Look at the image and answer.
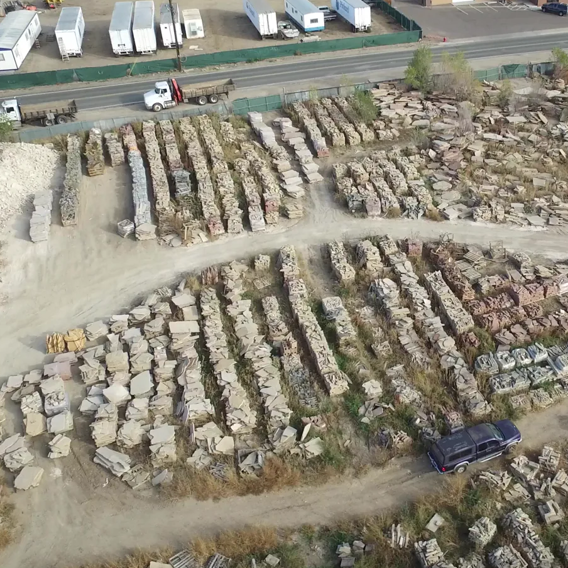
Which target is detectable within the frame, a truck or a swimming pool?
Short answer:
truck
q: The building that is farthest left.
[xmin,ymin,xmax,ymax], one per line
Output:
[0,11,42,72]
